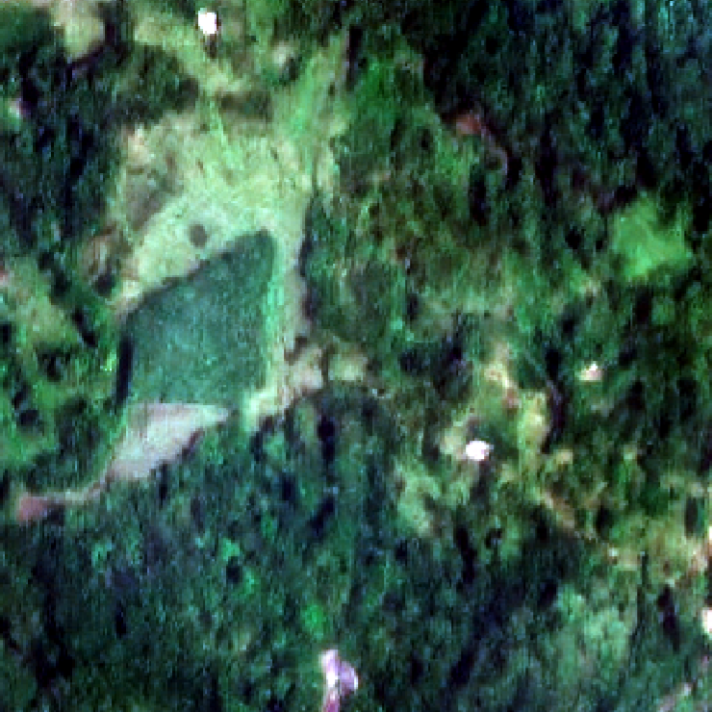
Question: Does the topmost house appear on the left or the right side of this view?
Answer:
left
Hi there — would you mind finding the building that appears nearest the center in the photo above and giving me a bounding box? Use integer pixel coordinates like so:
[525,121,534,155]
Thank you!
[464,440,487,460]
